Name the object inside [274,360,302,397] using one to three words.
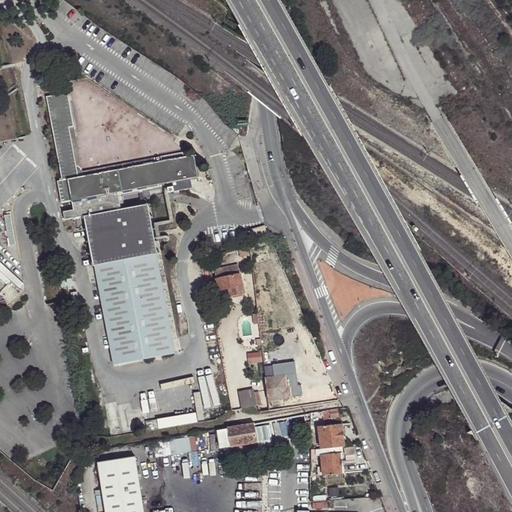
house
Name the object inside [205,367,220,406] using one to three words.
vehicle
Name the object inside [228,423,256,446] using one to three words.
barn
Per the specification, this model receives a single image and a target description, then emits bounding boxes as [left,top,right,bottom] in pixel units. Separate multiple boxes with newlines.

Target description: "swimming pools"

[239,314,260,346]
